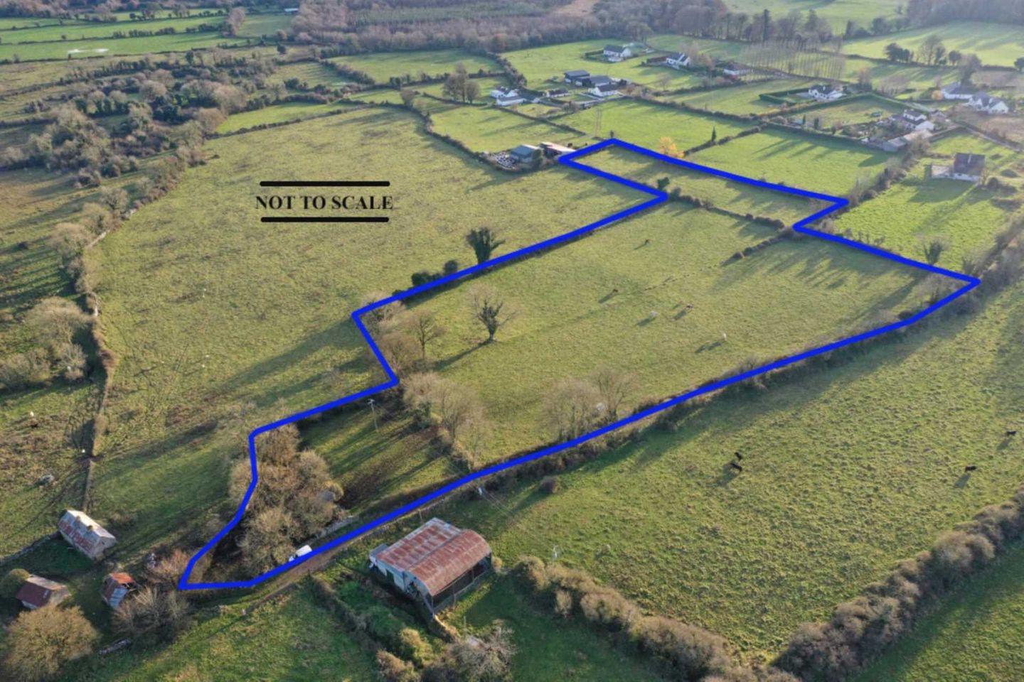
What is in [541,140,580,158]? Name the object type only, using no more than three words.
shed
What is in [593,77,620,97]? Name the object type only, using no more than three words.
house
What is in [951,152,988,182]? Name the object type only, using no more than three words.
house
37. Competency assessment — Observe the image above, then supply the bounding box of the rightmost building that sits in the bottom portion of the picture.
[377,515,493,613]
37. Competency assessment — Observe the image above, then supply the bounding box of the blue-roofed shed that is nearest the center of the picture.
[510,145,537,164]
